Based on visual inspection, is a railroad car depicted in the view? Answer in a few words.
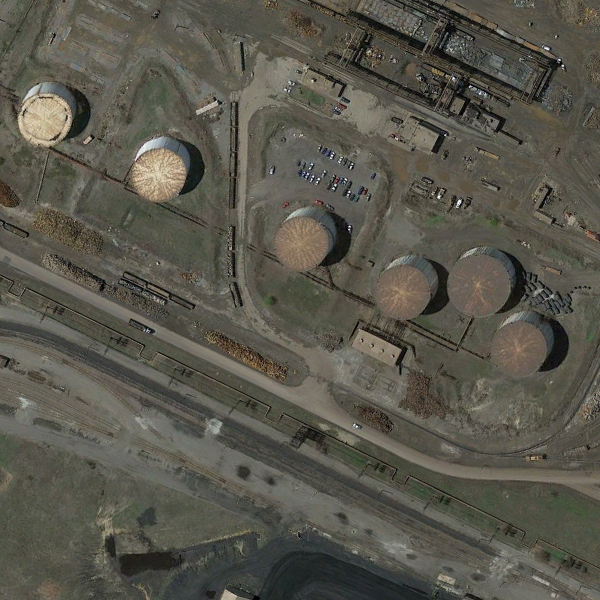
Yes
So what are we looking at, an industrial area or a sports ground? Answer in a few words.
industrial area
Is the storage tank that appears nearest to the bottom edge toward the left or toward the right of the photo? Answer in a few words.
right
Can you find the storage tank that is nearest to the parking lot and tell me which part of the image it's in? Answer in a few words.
center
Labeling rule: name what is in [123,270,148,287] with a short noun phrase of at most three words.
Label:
rail car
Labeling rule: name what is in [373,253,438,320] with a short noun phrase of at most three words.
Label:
storage tank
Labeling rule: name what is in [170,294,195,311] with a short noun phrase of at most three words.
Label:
rail car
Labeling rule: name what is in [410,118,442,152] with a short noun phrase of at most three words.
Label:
building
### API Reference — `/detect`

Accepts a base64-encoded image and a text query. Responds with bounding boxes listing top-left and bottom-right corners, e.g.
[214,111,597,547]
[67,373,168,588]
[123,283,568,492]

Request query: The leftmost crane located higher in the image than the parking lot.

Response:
[336,23,370,69]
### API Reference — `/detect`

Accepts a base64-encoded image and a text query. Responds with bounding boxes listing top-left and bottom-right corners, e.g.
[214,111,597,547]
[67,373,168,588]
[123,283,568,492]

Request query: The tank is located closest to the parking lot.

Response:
[273,206,336,271]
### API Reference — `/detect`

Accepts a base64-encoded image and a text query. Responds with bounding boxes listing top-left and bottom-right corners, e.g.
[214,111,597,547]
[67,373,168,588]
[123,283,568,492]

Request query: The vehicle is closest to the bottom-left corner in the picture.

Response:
[128,317,155,334]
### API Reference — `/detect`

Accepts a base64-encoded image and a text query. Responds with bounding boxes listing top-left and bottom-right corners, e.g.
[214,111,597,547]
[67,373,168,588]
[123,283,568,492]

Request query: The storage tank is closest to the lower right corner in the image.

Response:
[490,309,554,377]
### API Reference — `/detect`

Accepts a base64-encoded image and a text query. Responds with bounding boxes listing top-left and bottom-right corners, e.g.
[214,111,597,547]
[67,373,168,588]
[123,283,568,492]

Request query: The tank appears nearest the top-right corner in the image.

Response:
[446,245,516,317]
